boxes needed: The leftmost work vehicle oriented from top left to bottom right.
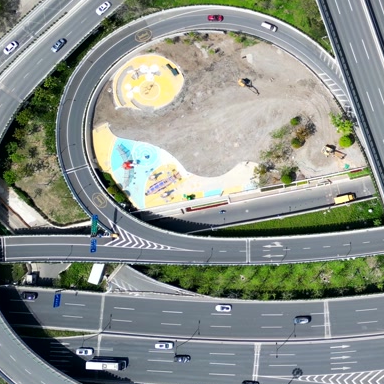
[237,77,257,92]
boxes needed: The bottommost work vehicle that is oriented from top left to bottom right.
[323,143,345,159]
